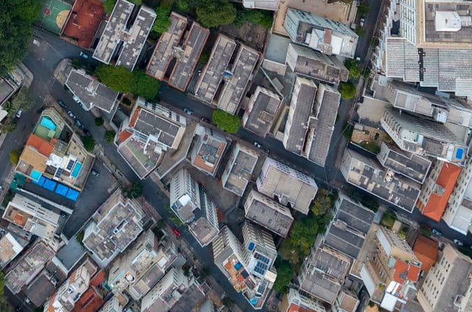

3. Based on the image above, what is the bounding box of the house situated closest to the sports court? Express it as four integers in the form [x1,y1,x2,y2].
[60,0,104,47]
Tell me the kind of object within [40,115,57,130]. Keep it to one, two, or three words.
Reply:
swimming pool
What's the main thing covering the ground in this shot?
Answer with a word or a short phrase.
buildings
